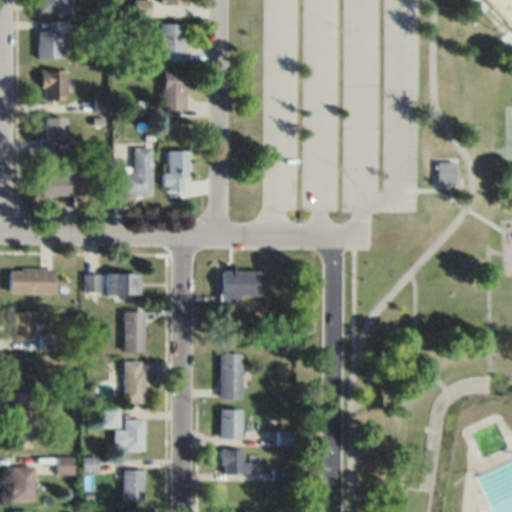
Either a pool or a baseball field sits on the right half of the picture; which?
pool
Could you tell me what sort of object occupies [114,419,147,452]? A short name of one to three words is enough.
house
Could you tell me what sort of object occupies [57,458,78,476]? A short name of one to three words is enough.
building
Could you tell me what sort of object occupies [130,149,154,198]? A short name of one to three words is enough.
house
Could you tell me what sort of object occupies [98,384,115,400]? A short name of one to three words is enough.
swimming pool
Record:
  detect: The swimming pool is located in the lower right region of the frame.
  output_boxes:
[464,414,512,512]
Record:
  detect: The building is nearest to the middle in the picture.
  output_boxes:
[221,270,265,302]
